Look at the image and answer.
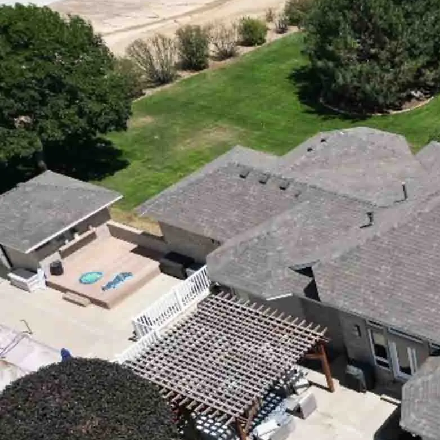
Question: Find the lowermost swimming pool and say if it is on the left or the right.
left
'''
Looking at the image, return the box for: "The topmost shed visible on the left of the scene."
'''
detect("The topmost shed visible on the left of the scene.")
[0,167,125,269]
